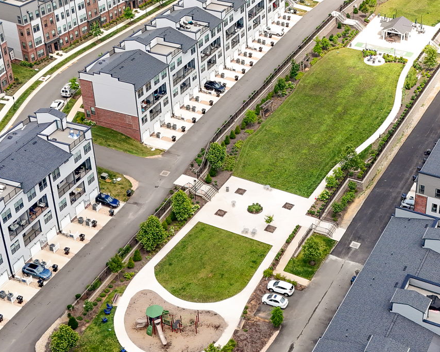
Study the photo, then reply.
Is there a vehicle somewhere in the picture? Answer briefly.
Yes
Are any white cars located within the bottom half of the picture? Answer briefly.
Yes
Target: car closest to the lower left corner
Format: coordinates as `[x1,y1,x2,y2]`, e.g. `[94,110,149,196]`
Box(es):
[23,257,52,282]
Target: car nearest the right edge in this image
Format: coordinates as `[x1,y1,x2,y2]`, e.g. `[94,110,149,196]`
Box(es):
[395,194,417,211]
